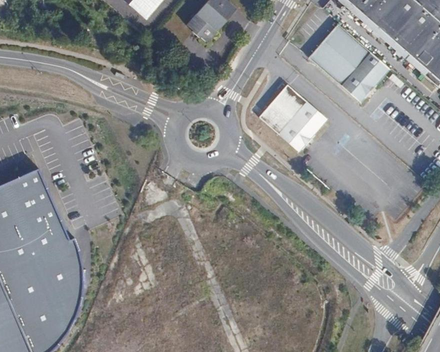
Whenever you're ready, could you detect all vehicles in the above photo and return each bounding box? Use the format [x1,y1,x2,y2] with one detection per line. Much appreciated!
[52,173,63,180]
[408,125,418,134]
[432,158,440,169]
[207,150,218,157]
[406,92,416,101]
[415,100,425,110]
[429,112,438,122]
[414,145,425,156]
[394,114,404,123]
[410,96,420,105]
[54,178,65,186]
[399,117,409,126]
[420,104,430,113]
[10,114,18,124]
[82,148,93,156]
[218,88,228,98]
[88,162,100,170]
[390,110,399,119]
[424,108,434,117]
[401,88,410,97]
[385,106,394,115]
[412,128,422,138]
[266,170,276,179]
[224,106,230,116]
[84,156,95,162]
[68,212,79,218]
[404,121,414,130]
